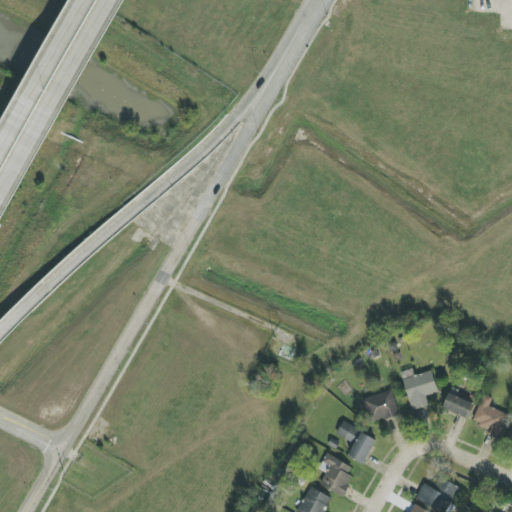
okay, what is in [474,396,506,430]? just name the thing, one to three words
house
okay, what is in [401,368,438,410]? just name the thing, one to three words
house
